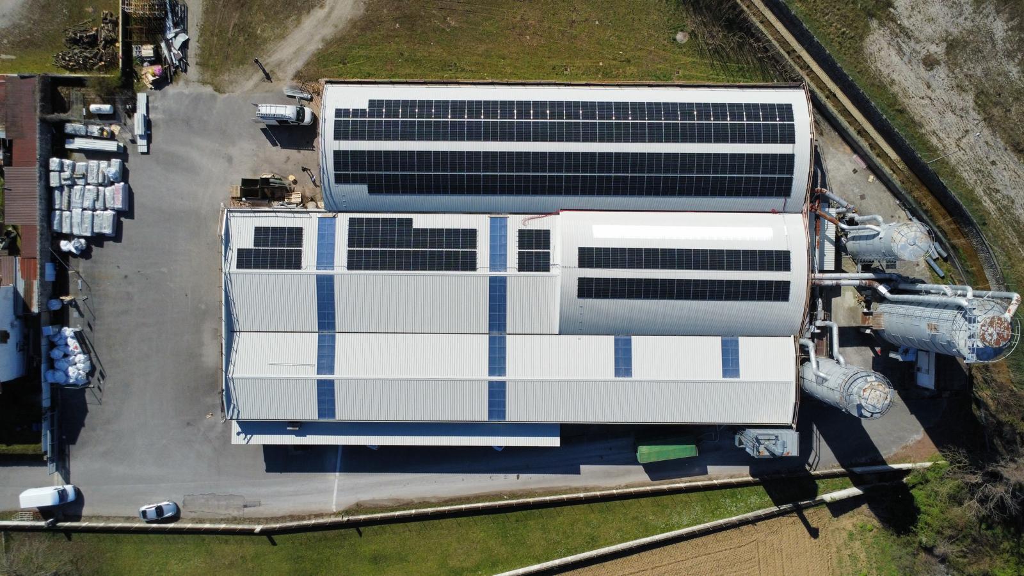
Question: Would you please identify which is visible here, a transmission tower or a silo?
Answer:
silo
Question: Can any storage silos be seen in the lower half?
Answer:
Yes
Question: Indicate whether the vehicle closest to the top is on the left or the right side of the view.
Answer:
left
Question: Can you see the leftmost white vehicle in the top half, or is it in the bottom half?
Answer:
bottom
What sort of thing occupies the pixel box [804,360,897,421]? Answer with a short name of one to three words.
silo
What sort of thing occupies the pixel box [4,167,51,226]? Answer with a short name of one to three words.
shed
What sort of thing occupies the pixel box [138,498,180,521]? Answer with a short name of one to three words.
car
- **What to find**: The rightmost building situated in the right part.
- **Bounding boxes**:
[904,350,935,388]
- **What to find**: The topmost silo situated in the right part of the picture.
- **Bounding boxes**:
[848,219,941,265]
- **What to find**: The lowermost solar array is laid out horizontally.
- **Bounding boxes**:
[578,279,792,301]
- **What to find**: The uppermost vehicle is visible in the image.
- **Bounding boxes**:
[248,102,314,127]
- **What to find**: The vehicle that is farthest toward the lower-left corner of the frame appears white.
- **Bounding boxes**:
[20,484,82,510]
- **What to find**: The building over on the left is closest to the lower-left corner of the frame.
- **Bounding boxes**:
[0,286,50,381]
